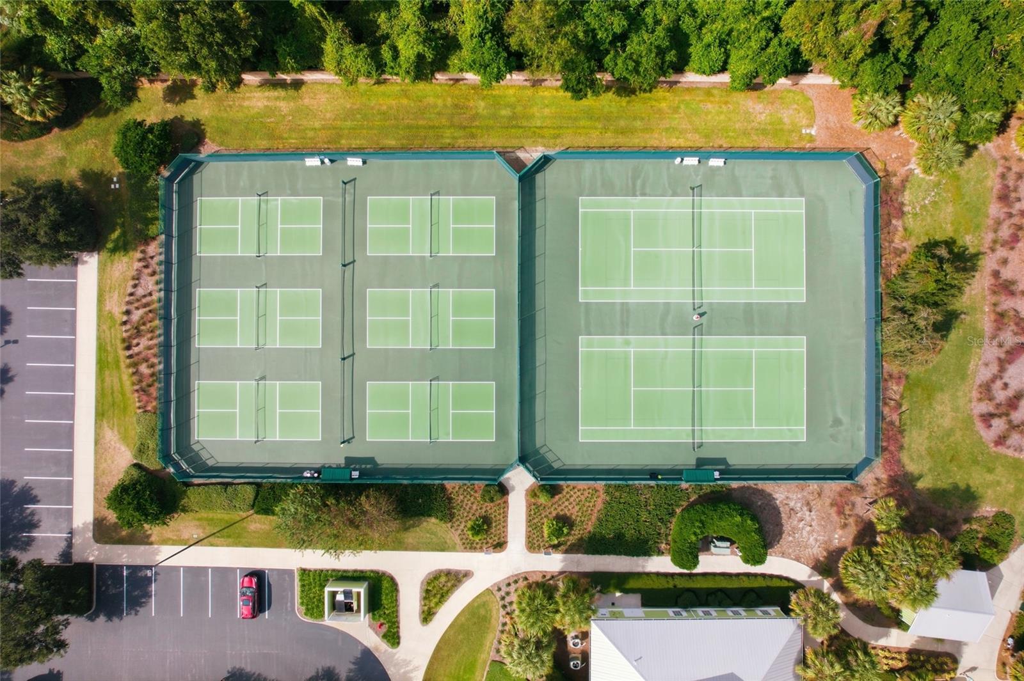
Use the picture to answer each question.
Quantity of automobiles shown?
1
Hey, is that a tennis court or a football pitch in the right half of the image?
tennis court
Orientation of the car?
up and down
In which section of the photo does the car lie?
bottom left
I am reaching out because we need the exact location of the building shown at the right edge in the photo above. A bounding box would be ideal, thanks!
[900,566,995,643]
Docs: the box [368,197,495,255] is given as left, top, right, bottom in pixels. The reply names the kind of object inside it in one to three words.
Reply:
sports court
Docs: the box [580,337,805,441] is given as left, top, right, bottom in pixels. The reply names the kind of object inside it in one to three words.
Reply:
tennis court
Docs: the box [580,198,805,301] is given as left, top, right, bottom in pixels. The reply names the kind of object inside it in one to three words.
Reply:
tennis court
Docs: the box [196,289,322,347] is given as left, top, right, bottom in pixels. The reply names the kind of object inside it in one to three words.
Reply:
sports court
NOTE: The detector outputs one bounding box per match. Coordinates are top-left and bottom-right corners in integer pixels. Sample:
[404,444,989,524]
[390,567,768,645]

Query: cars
[238,576,260,621]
